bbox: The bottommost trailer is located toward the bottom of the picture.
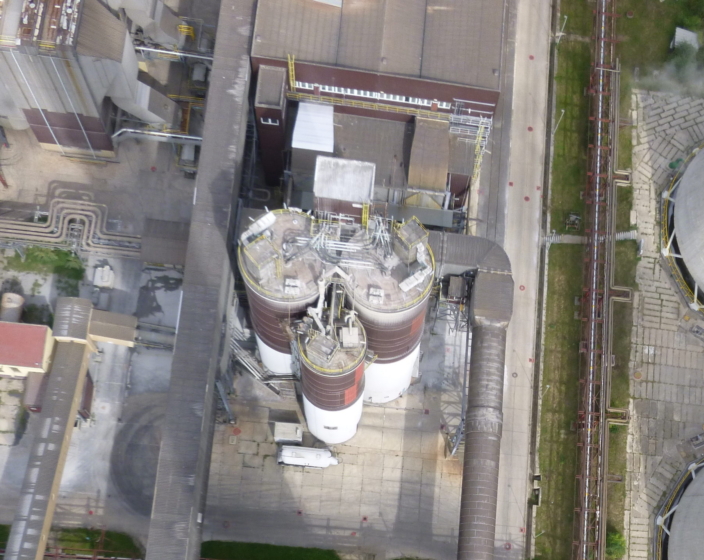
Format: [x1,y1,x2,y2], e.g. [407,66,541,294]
[279,445,341,466]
